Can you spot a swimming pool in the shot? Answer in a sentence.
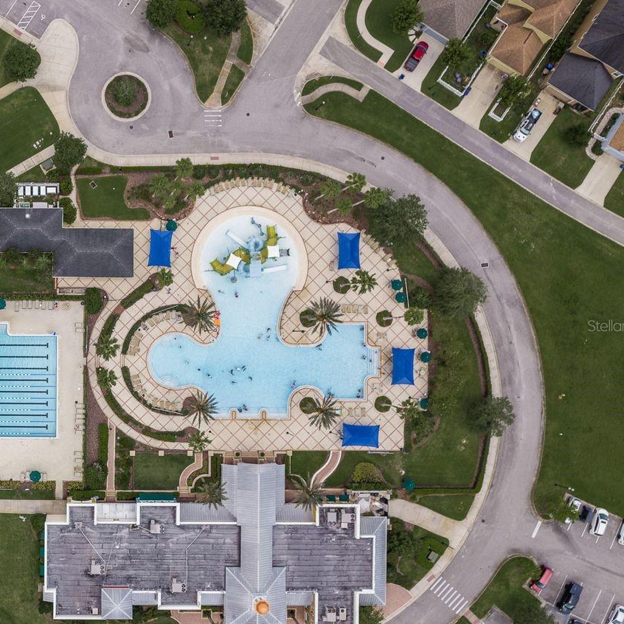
Yes, the photo shows a swimming pool.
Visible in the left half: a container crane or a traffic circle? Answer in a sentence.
You can see a traffic circle in the left half.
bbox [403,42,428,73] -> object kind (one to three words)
truck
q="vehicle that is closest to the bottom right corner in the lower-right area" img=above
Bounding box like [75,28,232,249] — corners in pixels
[604,603,624,624]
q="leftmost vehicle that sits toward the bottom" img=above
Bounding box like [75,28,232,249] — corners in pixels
[531,565,551,592]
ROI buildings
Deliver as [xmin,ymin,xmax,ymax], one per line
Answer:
[600,114,624,161]
[40,461,386,624]
[0,208,136,277]
[483,0,579,76]
[413,0,487,45]
[540,0,624,113]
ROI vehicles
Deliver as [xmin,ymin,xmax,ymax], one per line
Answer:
[576,501,595,527]
[557,580,581,614]
[531,565,551,592]
[616,520,624,543]
[604,603,624,624]
[513,110,541,142]
[587,509,609,536]
[569,490,585,518]
[403,42,428,73]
